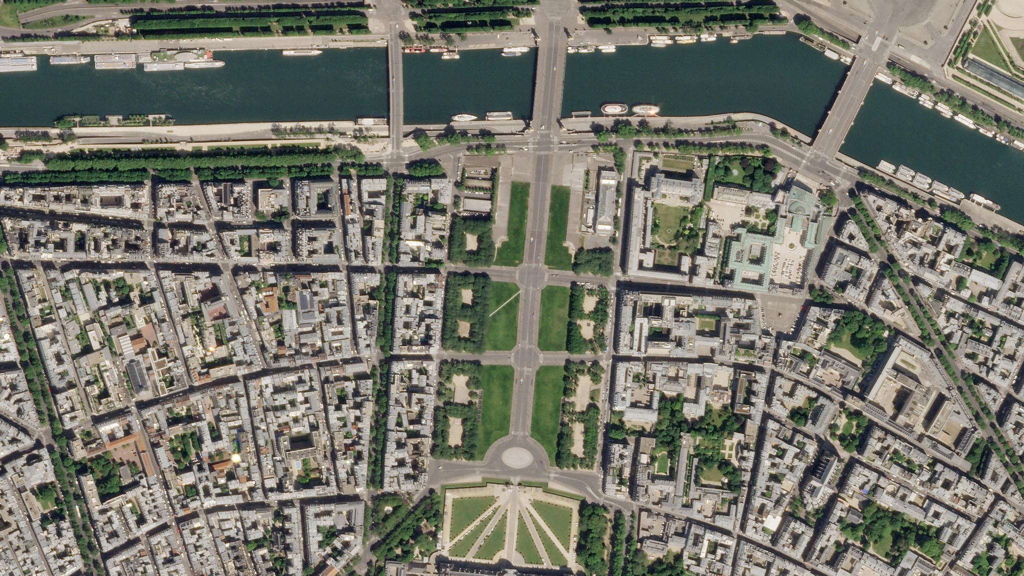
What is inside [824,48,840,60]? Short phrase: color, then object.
white boat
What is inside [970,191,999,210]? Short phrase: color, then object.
white boat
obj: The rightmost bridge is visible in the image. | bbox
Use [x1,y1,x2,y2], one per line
[812,53,881,156]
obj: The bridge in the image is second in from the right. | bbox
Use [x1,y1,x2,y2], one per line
[533,29,567,132]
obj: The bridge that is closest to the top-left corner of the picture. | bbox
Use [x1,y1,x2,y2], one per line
[387,33,405,138]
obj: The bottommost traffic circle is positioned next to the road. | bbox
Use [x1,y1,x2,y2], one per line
[484,437,550,483]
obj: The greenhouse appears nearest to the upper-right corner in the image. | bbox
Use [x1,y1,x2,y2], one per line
[963,58,1024,97]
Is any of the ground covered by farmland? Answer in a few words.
No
